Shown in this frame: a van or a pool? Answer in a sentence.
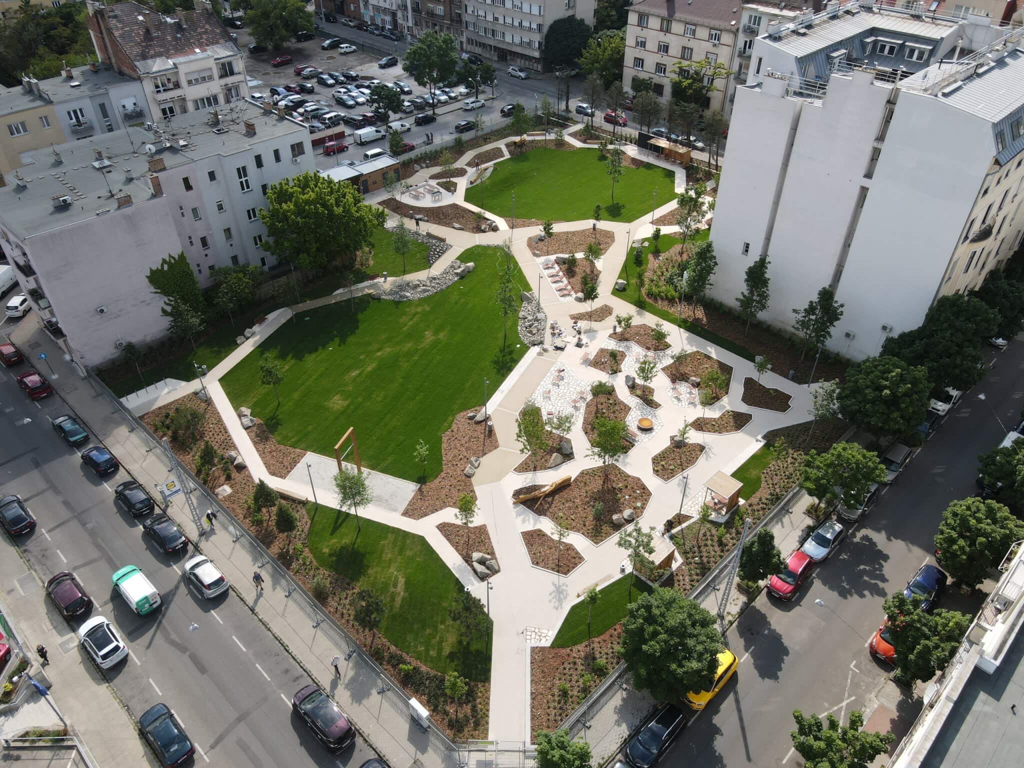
The one in the frame is a van.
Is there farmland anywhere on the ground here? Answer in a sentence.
No, the picture contains no farmland.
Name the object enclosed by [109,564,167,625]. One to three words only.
van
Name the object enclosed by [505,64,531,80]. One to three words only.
car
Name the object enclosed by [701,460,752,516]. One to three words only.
building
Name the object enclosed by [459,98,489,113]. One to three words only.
car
